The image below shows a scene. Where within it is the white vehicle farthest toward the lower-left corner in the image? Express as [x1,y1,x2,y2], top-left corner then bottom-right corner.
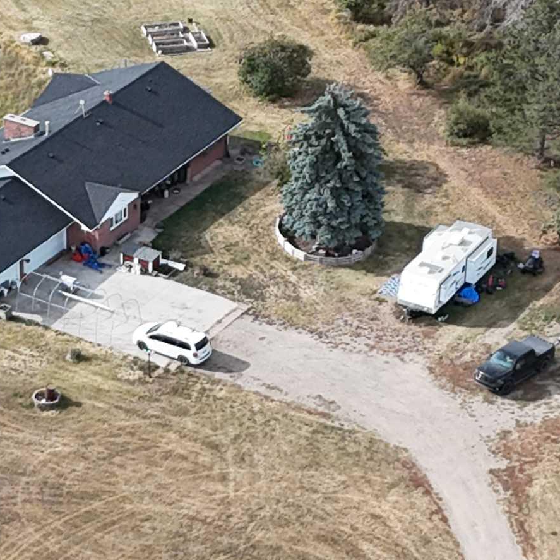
[129,320,214,365]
